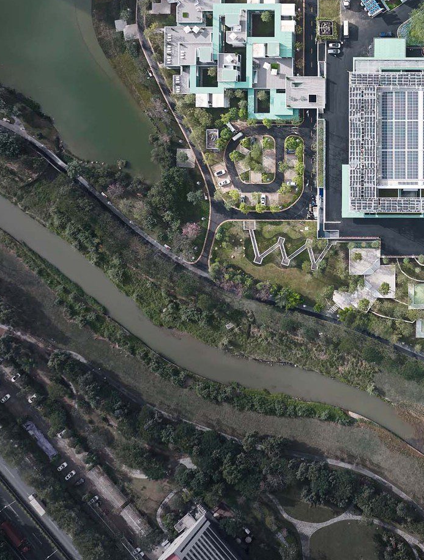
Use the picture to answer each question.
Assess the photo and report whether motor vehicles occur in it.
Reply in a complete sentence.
Yes, you can see a motor vehicle in this photo.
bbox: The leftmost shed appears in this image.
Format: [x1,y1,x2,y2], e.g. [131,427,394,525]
[86,463,128,505]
